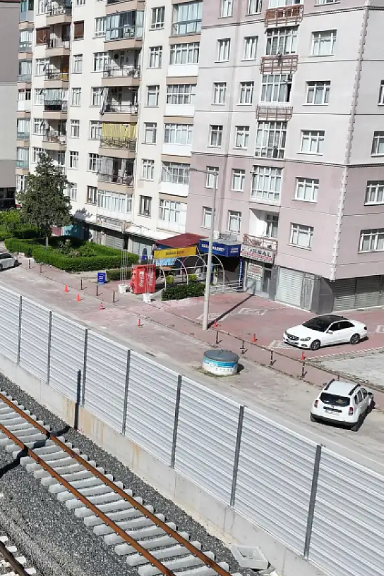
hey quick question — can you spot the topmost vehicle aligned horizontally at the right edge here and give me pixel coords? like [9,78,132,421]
[280,312,369,348]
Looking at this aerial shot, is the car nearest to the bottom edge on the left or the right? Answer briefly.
right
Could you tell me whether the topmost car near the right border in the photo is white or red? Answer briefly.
white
